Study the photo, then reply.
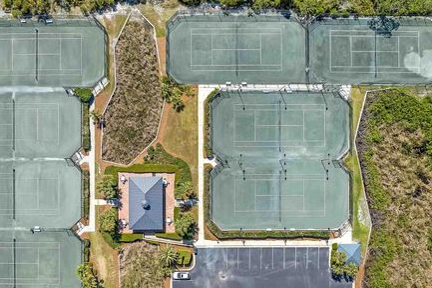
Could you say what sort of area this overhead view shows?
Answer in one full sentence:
What you see here is a sports ground.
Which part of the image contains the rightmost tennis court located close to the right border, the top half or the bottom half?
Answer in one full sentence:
The top half of the photo is where the rightmost tennis court located close to the right border is.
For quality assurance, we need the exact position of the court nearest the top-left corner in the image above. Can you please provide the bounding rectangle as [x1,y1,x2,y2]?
[0,20,105,91]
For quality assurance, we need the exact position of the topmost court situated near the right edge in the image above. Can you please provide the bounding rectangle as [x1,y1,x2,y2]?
[308,17,432,84]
